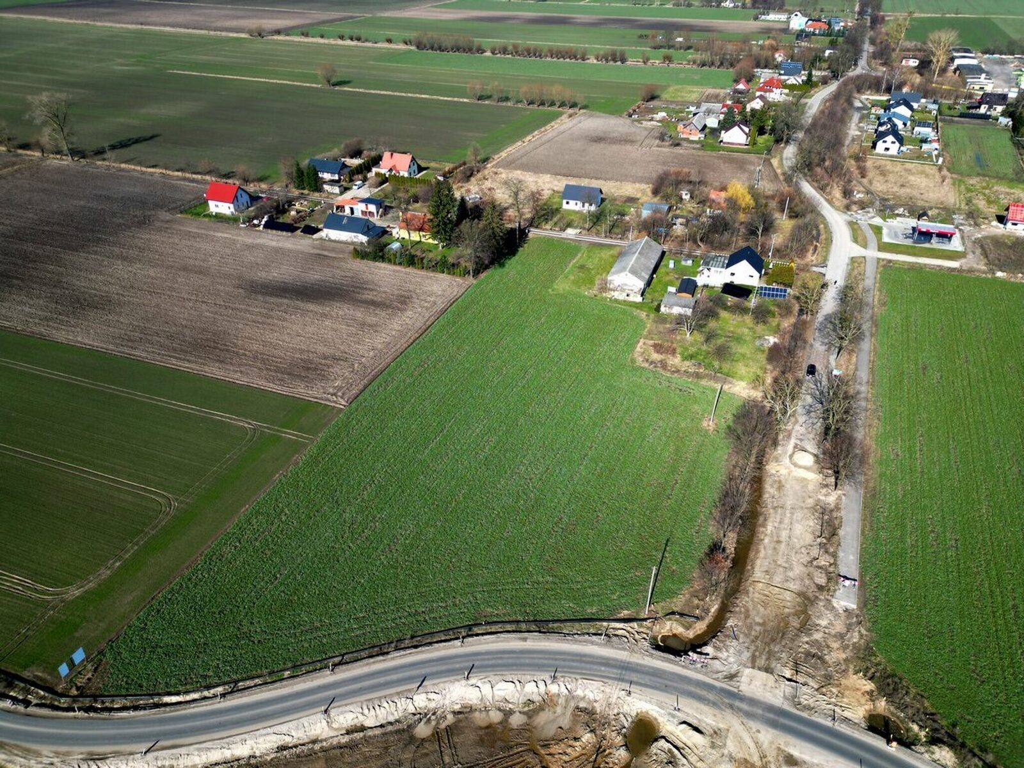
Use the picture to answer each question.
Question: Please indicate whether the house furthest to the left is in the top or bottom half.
top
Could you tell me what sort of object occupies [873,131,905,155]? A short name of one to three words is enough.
house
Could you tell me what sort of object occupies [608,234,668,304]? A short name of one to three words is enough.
barn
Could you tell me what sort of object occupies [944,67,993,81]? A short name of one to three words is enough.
building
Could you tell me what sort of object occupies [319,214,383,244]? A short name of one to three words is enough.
house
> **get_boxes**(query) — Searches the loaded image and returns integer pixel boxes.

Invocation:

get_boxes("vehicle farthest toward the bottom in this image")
[806,366,818,380]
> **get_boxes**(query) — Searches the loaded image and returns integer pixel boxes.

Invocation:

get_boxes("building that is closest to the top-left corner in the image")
[205,181,260,216]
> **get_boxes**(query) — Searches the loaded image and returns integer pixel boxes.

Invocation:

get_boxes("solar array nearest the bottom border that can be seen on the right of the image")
[757,288,787,301]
